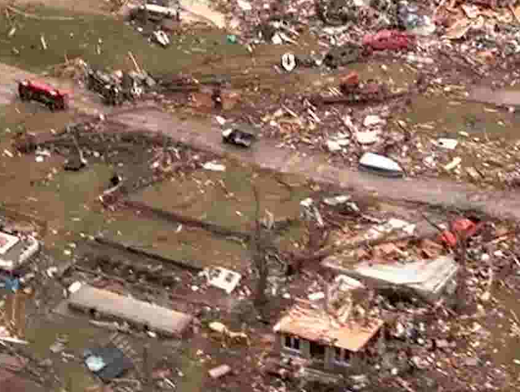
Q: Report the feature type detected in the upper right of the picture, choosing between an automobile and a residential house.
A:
automobile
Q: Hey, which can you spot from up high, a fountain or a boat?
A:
boat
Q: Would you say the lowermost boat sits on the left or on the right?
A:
right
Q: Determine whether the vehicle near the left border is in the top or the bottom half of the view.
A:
top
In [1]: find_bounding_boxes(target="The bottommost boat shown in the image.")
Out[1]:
[355,150,402,174]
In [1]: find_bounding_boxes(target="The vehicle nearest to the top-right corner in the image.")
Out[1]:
[365,33,410,52]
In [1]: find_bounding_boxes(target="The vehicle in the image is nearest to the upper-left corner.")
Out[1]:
[16,75,70,110]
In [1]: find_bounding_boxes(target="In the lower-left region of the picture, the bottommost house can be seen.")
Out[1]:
[67,281,195,344]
